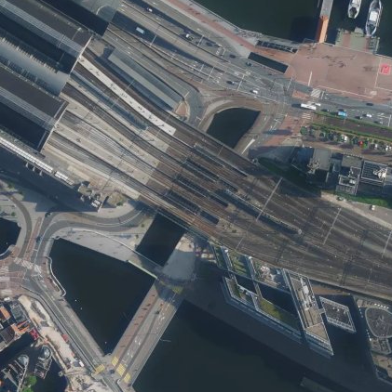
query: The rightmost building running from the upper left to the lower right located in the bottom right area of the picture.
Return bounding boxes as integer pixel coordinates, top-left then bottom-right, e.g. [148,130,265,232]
[320,298,358,335]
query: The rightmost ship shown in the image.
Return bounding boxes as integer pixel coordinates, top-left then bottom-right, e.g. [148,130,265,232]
[366,1,382,37]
